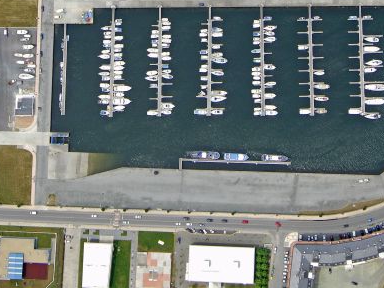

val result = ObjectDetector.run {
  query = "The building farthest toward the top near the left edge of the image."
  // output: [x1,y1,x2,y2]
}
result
[15,95,35,116]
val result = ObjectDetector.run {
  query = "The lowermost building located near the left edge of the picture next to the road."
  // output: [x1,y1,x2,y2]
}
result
[0,236,52,281]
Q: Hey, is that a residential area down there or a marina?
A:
marina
